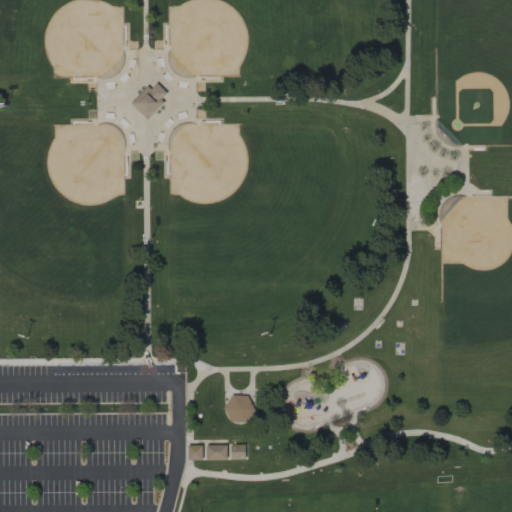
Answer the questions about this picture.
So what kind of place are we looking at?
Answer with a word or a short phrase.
sports ground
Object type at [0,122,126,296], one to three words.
baseball field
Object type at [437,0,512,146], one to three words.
baseball field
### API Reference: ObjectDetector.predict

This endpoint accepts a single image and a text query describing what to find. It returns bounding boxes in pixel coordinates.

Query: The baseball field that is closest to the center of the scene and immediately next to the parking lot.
[170,122,340,302]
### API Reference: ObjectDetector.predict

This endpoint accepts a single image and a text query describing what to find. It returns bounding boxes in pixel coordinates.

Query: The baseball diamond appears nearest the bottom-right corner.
[440,196,512,347]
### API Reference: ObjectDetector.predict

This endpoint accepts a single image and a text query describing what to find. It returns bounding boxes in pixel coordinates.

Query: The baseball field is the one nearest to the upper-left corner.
[0,0,125,78]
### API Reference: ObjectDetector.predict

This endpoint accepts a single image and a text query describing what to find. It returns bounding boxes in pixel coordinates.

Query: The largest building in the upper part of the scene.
[133,82,168,118]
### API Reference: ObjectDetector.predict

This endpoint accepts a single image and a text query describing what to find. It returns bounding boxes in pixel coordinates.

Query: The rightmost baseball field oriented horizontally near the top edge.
[168,0,342,78]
